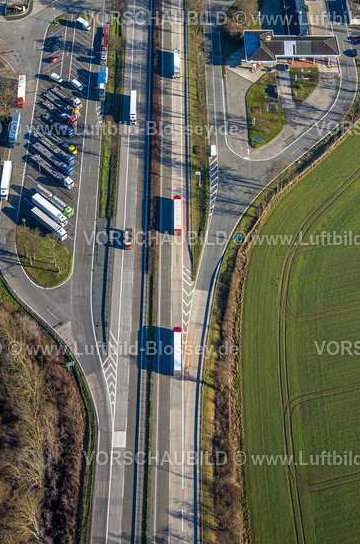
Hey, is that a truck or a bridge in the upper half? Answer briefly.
truck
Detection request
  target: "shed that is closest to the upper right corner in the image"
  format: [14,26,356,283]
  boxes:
[346,0,360,26]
